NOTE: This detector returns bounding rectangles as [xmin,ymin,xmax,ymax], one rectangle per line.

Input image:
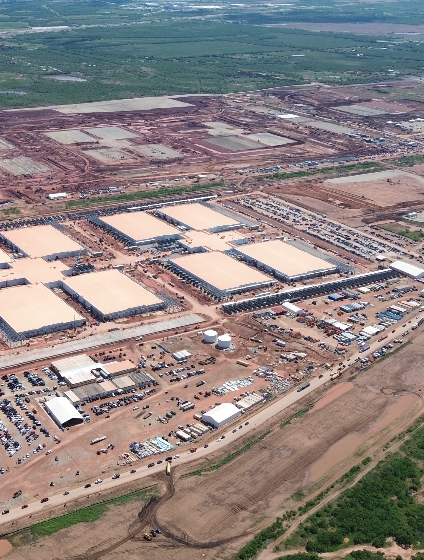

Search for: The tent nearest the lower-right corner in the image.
[203,403,240,431]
